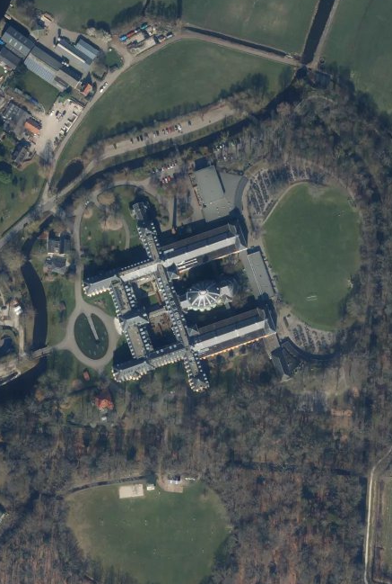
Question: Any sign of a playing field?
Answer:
Yes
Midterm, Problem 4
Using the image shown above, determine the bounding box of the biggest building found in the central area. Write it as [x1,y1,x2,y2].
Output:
[83,203,283,390]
